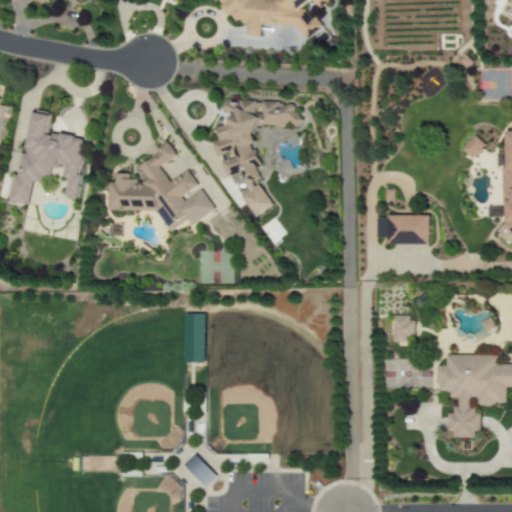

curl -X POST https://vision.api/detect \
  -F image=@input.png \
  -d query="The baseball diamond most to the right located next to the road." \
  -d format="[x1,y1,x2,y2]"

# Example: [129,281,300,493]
[207,309,333,454]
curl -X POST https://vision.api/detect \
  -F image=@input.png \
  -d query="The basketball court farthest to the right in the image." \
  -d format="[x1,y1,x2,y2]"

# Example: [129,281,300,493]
[481,71,512,100]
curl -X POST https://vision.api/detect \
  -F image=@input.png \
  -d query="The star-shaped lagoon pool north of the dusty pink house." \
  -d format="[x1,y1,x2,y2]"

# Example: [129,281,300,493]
[455,309,490,340]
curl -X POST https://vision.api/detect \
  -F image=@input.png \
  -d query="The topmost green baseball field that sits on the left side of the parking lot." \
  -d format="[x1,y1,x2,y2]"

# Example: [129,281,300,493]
[38,310,186,490]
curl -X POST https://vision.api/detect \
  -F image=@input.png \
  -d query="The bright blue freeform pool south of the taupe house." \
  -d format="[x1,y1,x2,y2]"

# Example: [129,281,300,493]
[134,223,158,246]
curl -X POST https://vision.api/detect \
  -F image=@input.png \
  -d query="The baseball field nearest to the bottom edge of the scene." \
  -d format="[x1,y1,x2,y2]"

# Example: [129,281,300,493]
[38,476,186,512]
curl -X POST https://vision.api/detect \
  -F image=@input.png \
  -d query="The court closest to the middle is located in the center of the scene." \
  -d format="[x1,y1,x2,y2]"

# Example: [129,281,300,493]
[200,251,234,283]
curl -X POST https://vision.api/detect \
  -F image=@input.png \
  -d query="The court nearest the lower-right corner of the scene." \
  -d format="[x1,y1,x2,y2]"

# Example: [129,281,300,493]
[386,360,436,388]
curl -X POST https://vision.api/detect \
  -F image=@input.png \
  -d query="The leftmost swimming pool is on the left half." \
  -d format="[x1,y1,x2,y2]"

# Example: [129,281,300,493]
[44,202,68,219]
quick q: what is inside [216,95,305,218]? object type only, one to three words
house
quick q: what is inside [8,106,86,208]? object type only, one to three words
house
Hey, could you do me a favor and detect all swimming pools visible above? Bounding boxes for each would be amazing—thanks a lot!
[280,142,302,168]
[474,172,490,203]
[455,309,490,340]
[44,202,68,219]
[134,223,158,246]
